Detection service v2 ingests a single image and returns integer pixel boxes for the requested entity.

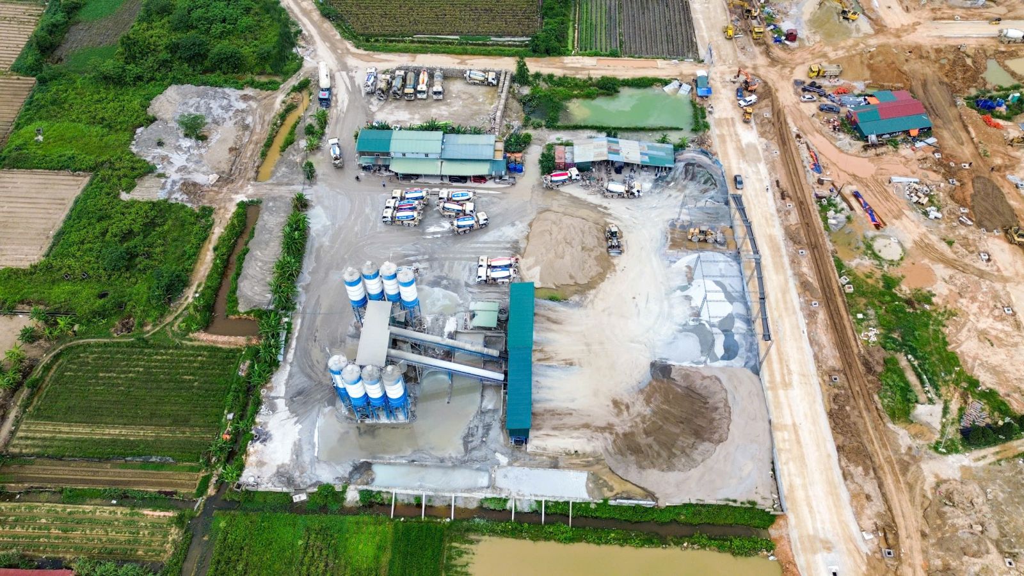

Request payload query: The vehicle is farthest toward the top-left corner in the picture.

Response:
[316,57,329,109]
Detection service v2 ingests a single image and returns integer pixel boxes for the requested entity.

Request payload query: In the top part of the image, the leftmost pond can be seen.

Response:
[561,86,695,134]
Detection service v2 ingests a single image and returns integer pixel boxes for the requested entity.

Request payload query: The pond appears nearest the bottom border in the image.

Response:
[470,538,781,576]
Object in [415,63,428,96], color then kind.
white vehicle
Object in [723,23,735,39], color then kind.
yellow vehicle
